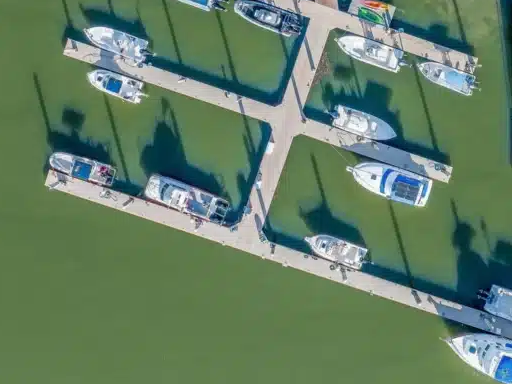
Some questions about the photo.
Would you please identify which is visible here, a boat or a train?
boat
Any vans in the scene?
No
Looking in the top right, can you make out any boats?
Yes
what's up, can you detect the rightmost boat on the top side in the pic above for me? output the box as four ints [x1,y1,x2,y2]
[419,49,490,103]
